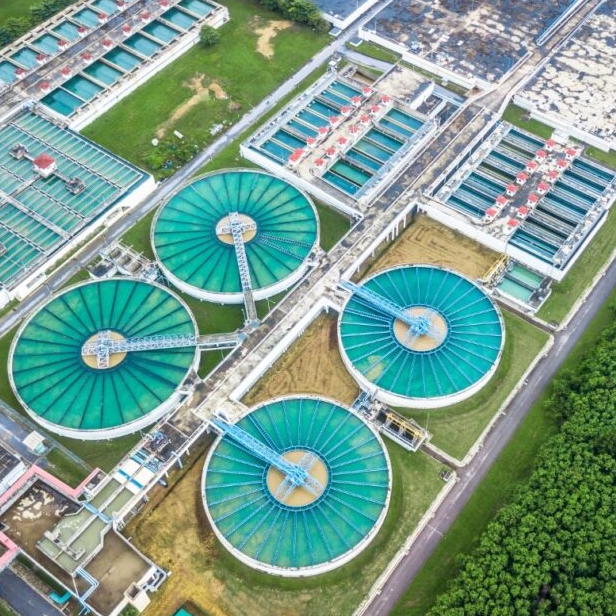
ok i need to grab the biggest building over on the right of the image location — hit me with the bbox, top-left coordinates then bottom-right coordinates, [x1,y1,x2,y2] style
[373,65,434,109]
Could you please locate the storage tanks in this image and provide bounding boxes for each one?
[337,261,506,408]
[7,274,242,439]
[0,106,156,316]
[150,167,320,324]
[201,394,392,575]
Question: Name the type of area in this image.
industrial area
